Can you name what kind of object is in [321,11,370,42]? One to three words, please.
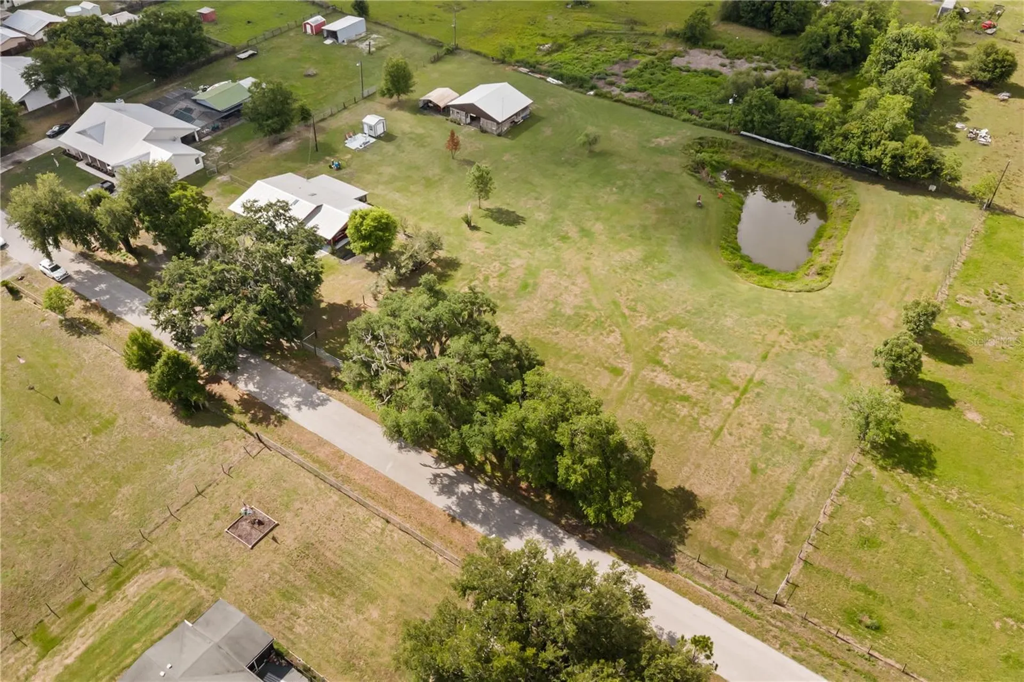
shed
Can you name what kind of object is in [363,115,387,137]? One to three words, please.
shed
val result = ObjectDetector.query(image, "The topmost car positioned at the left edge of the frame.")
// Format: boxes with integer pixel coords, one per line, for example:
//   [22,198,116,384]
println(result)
[43,124,72,139]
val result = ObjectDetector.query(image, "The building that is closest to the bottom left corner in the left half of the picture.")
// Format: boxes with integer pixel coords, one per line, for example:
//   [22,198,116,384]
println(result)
[118,599,275,682]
